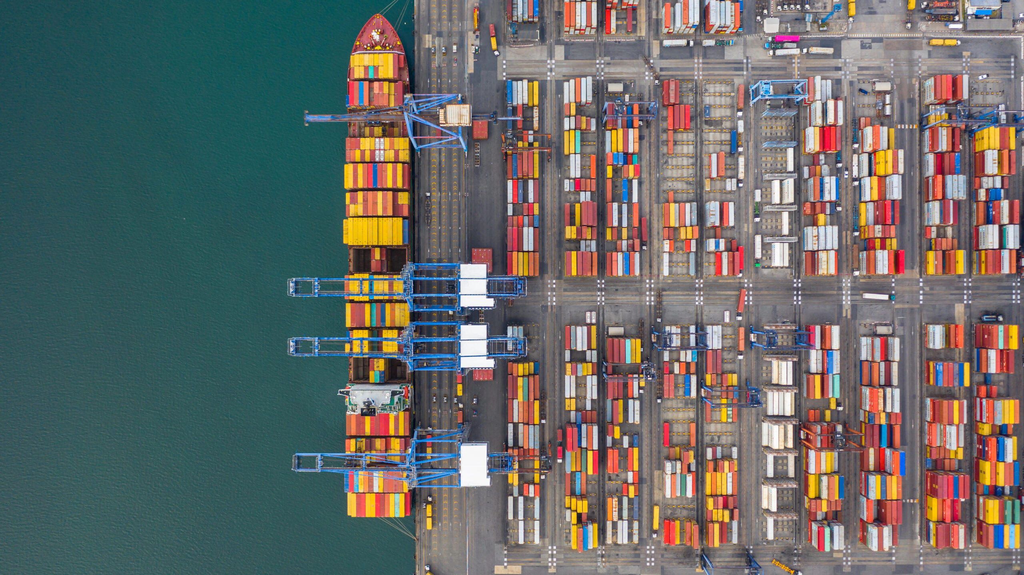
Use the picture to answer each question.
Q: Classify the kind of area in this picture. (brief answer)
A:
port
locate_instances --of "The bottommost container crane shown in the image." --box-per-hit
[699,550,757,575]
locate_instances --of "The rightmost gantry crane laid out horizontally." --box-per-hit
[966,106,1024,136]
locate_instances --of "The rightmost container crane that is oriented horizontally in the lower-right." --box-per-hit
[797,424,860,452]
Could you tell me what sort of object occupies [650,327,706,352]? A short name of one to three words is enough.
container crane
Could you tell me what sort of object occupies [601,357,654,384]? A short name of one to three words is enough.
container crane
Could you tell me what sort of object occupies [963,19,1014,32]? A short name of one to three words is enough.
building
